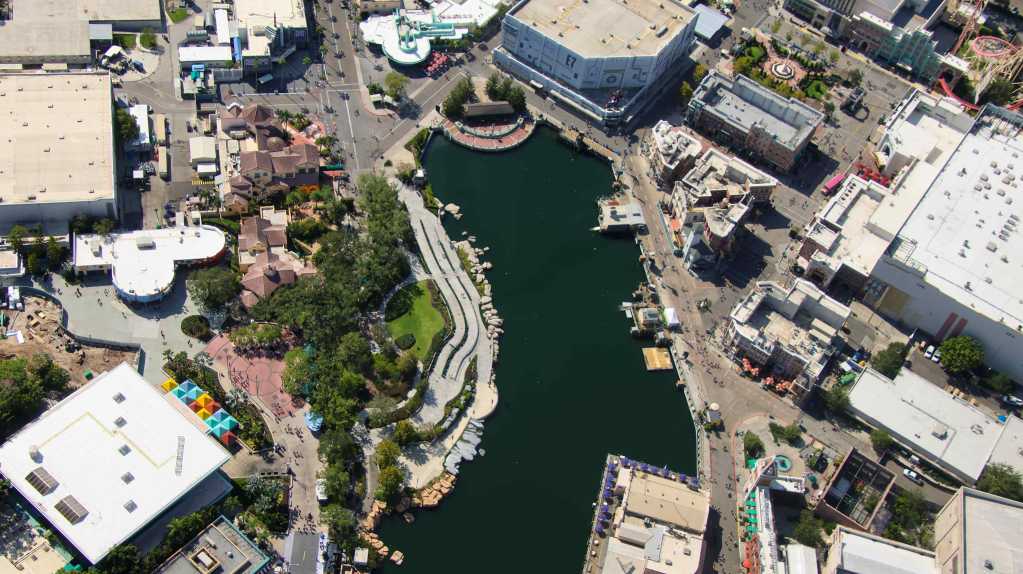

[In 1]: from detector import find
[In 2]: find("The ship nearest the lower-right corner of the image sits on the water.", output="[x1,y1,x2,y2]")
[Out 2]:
[642,348,671,374]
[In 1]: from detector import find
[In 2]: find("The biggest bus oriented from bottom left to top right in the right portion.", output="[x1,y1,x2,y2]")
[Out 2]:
[820,173,847,196]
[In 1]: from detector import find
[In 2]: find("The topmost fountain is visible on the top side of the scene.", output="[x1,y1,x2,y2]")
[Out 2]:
[771,53,797,77]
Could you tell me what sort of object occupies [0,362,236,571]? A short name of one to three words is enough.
building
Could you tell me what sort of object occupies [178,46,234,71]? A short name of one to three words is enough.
shed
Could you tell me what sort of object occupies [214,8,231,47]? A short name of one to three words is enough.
shed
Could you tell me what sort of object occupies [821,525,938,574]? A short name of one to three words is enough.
building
